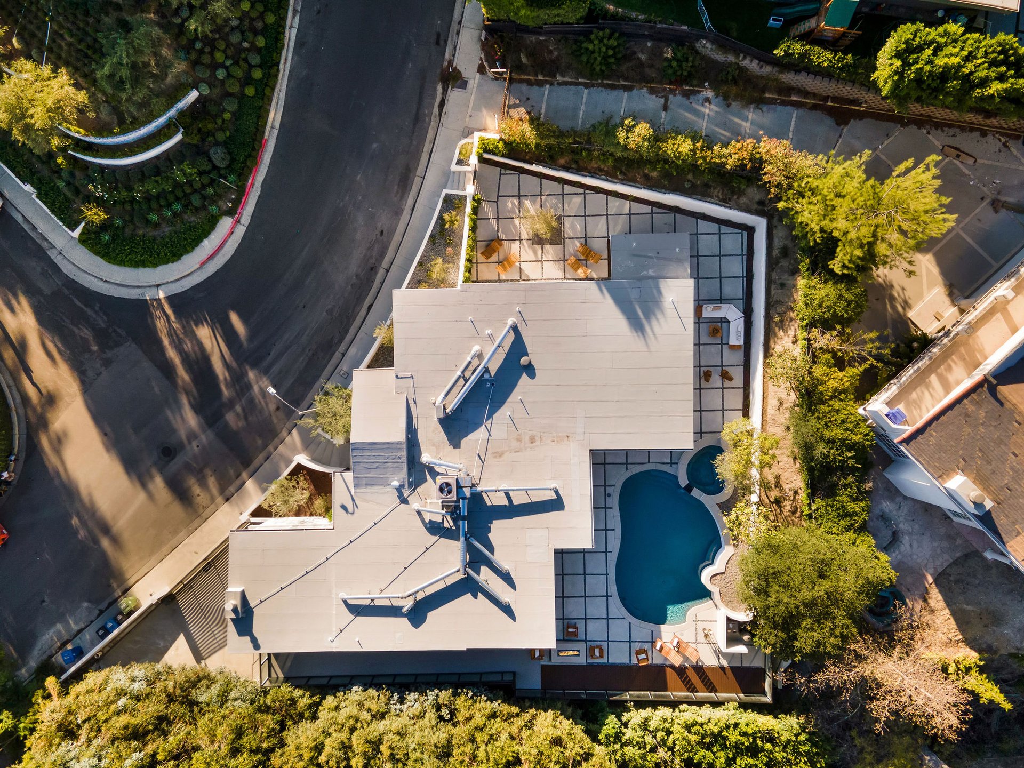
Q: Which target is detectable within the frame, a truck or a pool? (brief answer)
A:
pool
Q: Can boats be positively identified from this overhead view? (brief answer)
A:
No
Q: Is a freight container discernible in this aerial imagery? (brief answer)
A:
No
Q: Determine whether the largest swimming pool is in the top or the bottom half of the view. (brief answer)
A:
bottom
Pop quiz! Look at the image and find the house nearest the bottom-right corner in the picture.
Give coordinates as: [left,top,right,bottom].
[847,232,1024,589]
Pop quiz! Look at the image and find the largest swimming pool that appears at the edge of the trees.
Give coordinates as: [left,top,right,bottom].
[610,464,721,631]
